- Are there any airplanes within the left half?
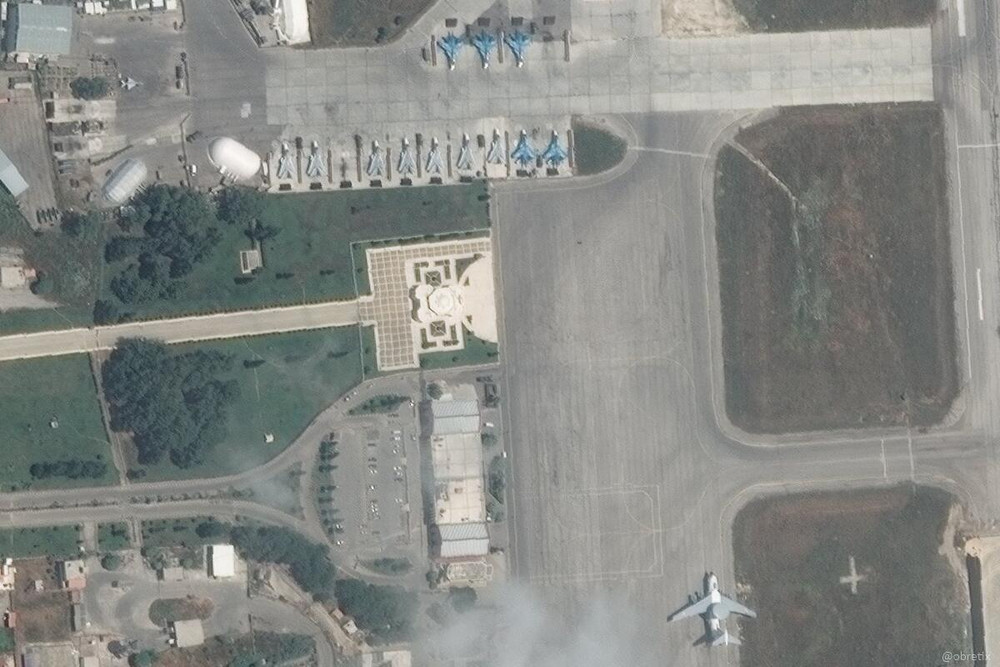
Yes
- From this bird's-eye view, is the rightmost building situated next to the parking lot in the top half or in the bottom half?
bottom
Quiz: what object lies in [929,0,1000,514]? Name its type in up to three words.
runway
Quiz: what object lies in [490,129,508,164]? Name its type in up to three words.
airplane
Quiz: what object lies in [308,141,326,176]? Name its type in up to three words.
airplane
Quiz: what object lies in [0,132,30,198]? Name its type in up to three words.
building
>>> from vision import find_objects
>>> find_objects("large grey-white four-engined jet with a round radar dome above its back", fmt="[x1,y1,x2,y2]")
[675,572,758,646]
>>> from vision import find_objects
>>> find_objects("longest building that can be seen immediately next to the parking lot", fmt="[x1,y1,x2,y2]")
[425,399,490,558]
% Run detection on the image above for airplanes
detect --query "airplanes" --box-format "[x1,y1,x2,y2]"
[429,137,446,172]
[278,143,297,178]
[472,30,497,69]
[398,138,417,173]
[504,29,529,67]
[490,129,508,164]
[438,31,464,70]
[513,132,537,167]
[459,134,478,169]
[369,140,388,175]
[543,132,566,167]
[308,141,326,176]
[675,572,758,646]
